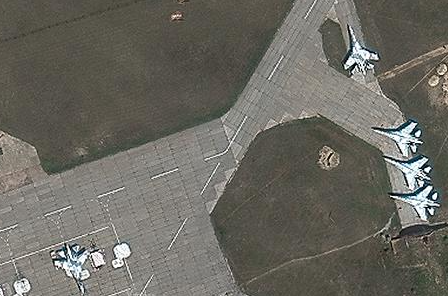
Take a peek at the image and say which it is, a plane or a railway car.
plane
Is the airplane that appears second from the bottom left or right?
right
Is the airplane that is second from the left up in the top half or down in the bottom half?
top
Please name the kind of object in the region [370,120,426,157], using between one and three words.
airplane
